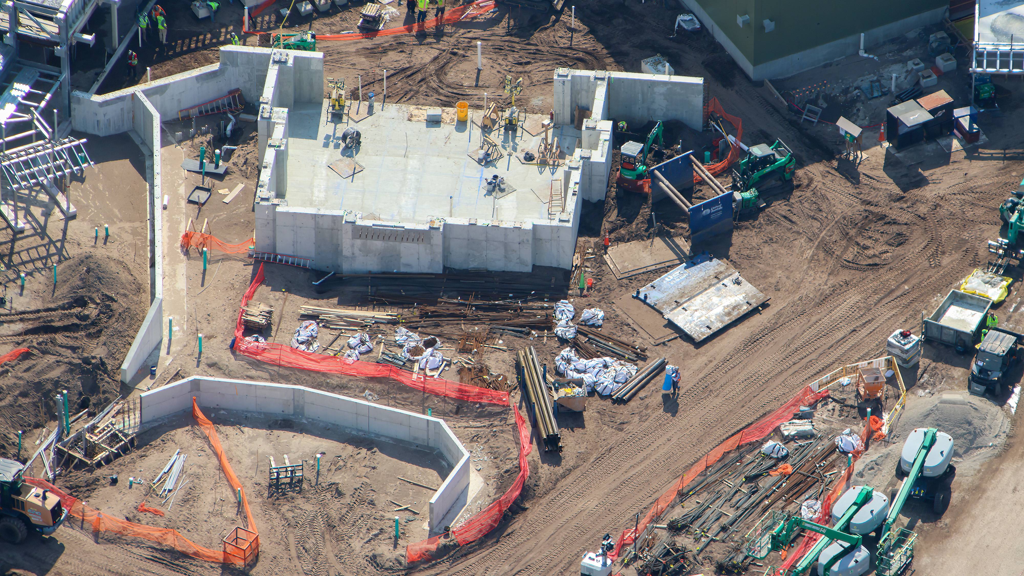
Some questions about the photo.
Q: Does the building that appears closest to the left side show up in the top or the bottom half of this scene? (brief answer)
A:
top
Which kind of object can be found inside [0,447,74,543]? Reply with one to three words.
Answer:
work vehicle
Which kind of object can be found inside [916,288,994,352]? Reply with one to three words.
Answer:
trailer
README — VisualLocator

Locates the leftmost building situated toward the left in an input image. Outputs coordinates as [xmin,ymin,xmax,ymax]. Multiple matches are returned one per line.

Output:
[0,0,124,122]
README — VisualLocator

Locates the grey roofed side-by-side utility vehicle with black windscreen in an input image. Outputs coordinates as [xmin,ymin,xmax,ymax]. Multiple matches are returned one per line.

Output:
[968,331,1024,400]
